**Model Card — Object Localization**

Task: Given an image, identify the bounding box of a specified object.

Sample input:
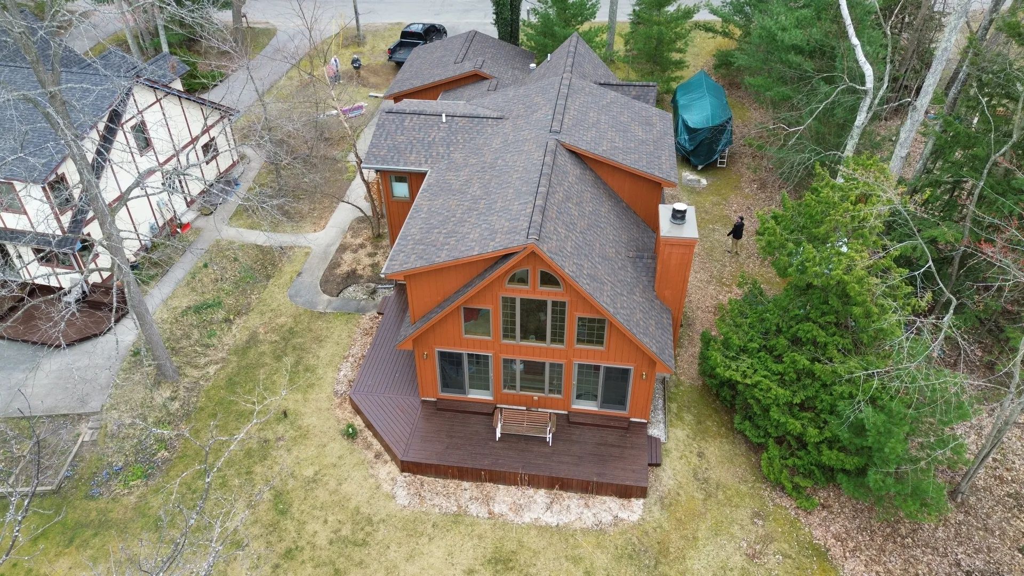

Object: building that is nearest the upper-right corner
[360,23,696,422]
